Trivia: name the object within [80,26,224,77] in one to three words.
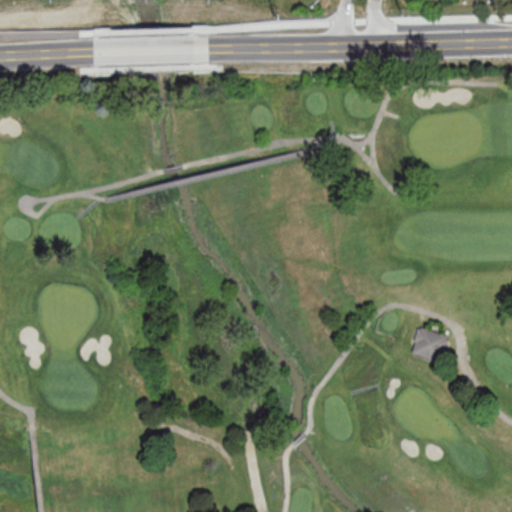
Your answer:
bridge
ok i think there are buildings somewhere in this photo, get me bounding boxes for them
[411,326,451,360]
